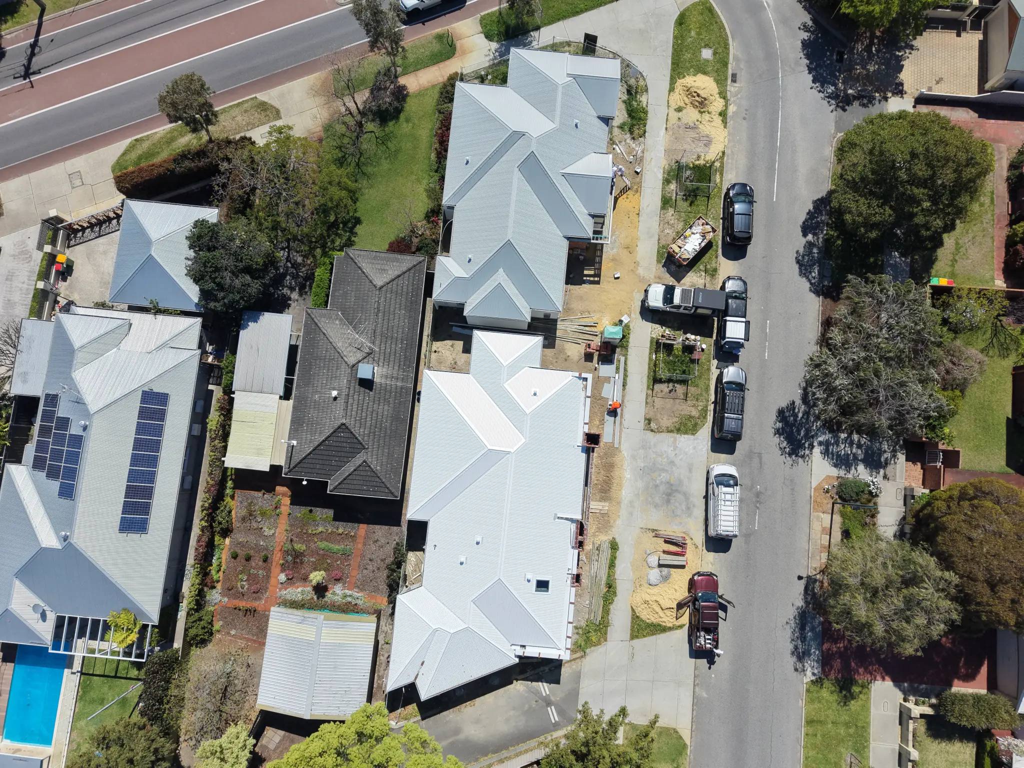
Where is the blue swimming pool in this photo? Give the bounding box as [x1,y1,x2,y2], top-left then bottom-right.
[1,641,73,747]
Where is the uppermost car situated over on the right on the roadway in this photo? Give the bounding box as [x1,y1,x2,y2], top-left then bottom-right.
[722,184,758,247]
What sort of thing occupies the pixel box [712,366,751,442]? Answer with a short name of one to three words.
truck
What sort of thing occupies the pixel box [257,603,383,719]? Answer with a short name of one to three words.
shed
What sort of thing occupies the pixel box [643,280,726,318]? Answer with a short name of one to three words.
truck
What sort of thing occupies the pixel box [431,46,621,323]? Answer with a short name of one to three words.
house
